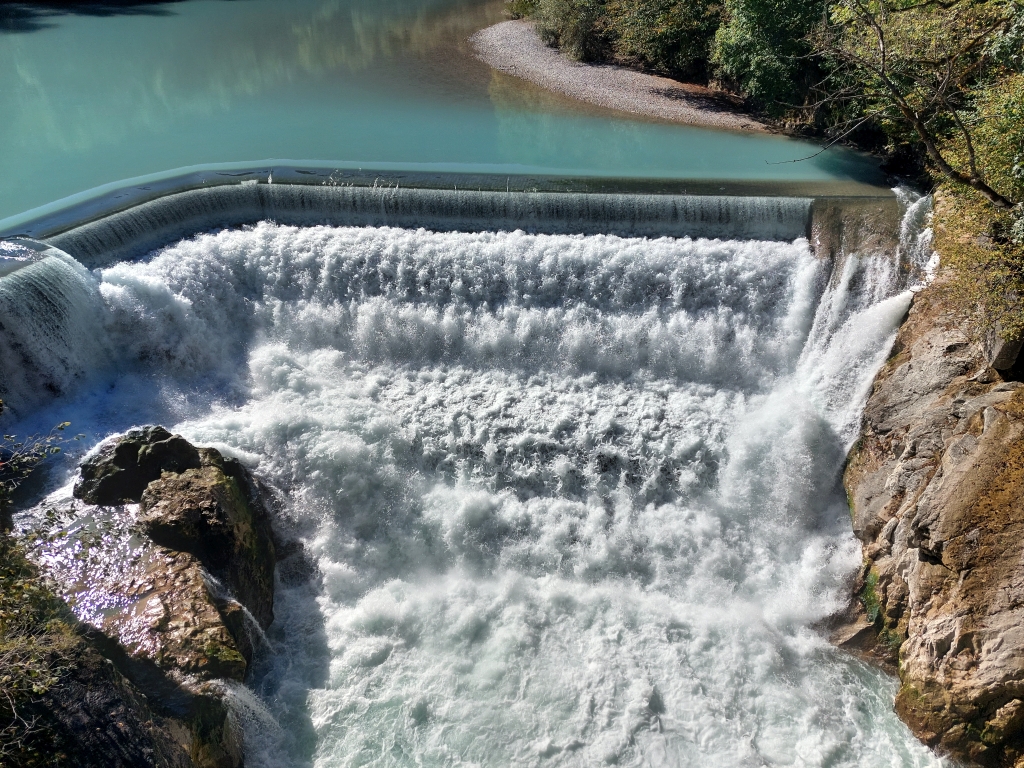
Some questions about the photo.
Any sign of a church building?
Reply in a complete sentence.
No, the scene contains no church building.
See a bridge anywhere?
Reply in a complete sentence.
No, I find no bridge anywhere in the image.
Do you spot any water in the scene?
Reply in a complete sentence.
Yes, there's water in this view.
